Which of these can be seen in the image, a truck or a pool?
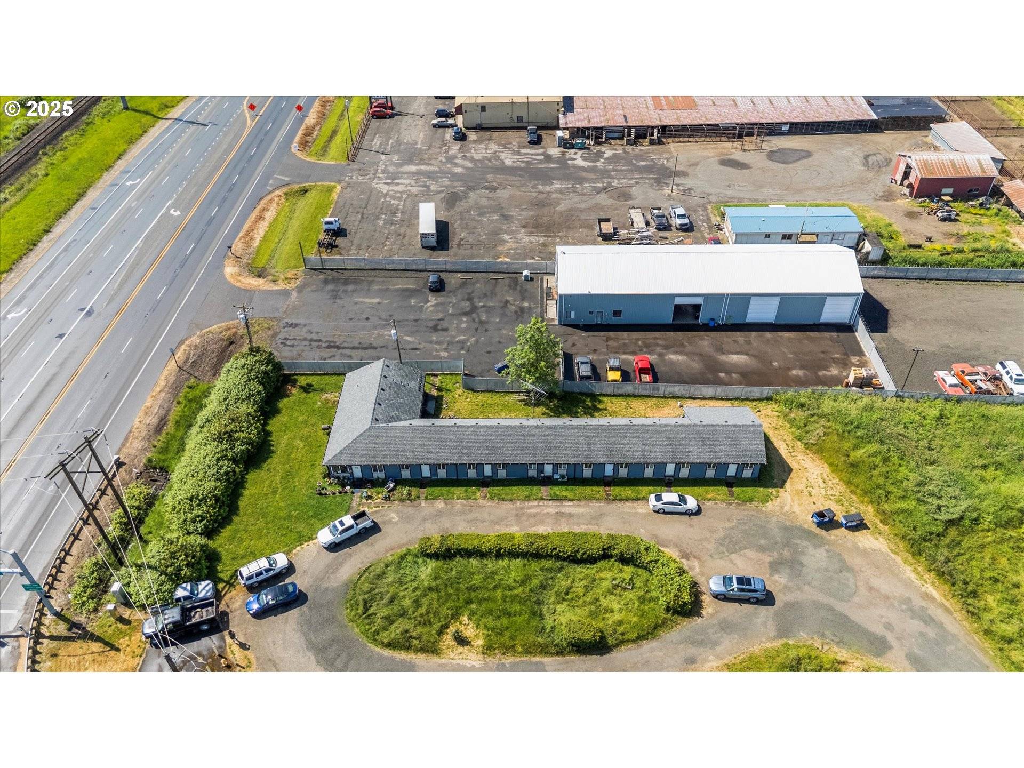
truck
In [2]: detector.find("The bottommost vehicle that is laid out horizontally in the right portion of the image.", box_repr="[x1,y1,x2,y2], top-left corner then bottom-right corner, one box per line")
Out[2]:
[709,572,768,603]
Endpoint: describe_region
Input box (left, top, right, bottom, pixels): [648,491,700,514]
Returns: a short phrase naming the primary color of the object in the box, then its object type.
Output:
white car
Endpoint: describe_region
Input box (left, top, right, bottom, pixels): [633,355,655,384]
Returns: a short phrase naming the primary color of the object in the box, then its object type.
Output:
red truck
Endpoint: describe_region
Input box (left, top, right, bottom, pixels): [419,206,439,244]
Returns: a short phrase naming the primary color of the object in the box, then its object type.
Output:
white trailer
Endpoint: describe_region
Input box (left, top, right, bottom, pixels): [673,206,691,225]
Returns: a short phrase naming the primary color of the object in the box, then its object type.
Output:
white vehicle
